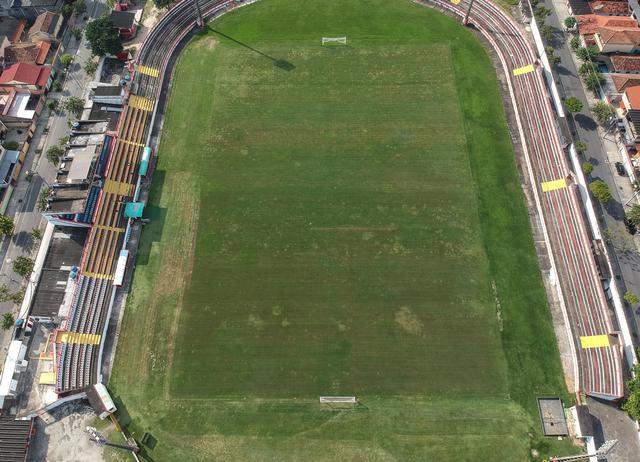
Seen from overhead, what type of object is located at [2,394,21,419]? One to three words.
shed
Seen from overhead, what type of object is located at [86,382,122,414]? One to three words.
building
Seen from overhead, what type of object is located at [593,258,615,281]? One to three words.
shed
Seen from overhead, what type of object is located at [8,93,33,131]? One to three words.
house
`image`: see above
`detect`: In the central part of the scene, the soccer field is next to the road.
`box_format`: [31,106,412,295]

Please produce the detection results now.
[164,40,514,403]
